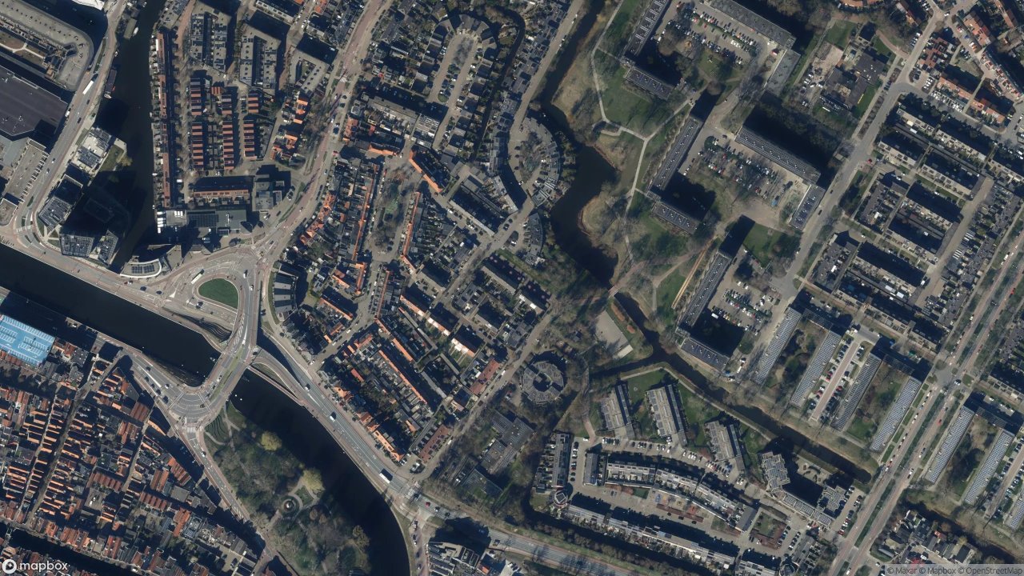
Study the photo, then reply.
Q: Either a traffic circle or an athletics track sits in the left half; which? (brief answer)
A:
traffic circle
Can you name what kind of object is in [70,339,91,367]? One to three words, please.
building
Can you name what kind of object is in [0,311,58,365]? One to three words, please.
building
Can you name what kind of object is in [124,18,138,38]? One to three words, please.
boat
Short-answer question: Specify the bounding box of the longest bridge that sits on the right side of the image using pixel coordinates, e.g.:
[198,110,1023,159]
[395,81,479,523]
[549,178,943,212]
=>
[856,469,917,514]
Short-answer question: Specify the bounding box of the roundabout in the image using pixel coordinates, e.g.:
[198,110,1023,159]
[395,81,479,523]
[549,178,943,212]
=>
[161,257,256,397]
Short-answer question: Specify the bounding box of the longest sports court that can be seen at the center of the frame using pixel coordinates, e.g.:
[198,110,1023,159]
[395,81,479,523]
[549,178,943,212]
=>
[594,311,632,359]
